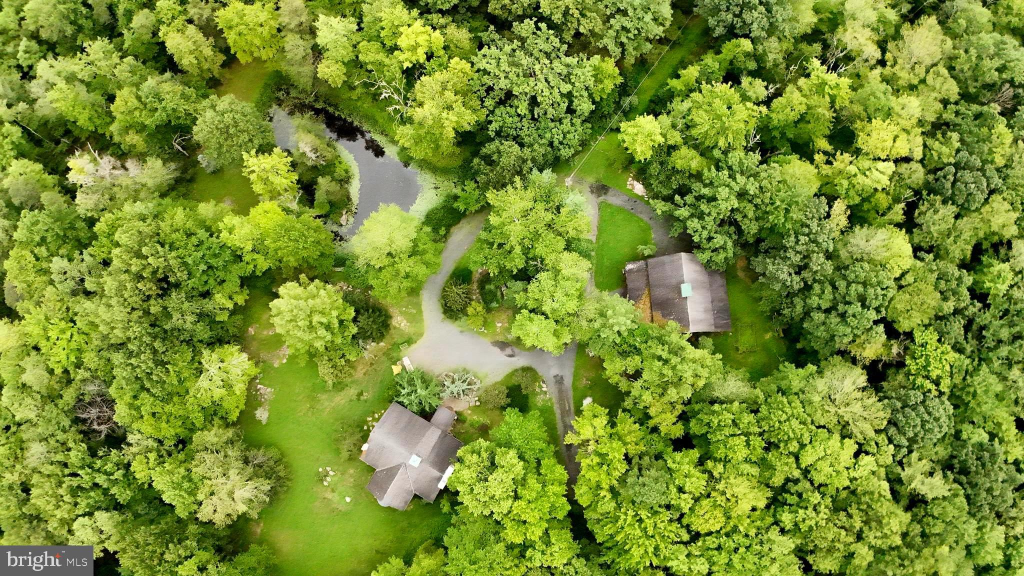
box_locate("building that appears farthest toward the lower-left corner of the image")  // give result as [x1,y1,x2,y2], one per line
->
[360,402,465,510]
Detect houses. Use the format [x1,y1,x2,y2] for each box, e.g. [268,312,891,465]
[624,251,728,335]
[360,402,465,510]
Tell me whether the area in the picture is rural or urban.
rural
